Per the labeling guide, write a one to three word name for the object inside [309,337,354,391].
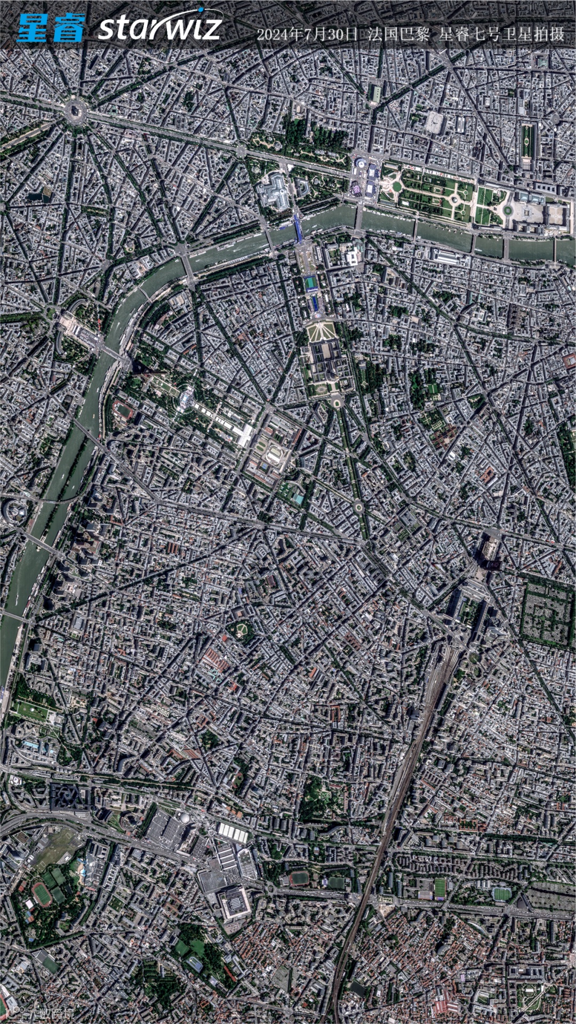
building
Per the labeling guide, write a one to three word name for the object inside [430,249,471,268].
building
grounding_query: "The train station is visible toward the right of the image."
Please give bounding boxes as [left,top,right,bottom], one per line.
[438,579,490,645]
